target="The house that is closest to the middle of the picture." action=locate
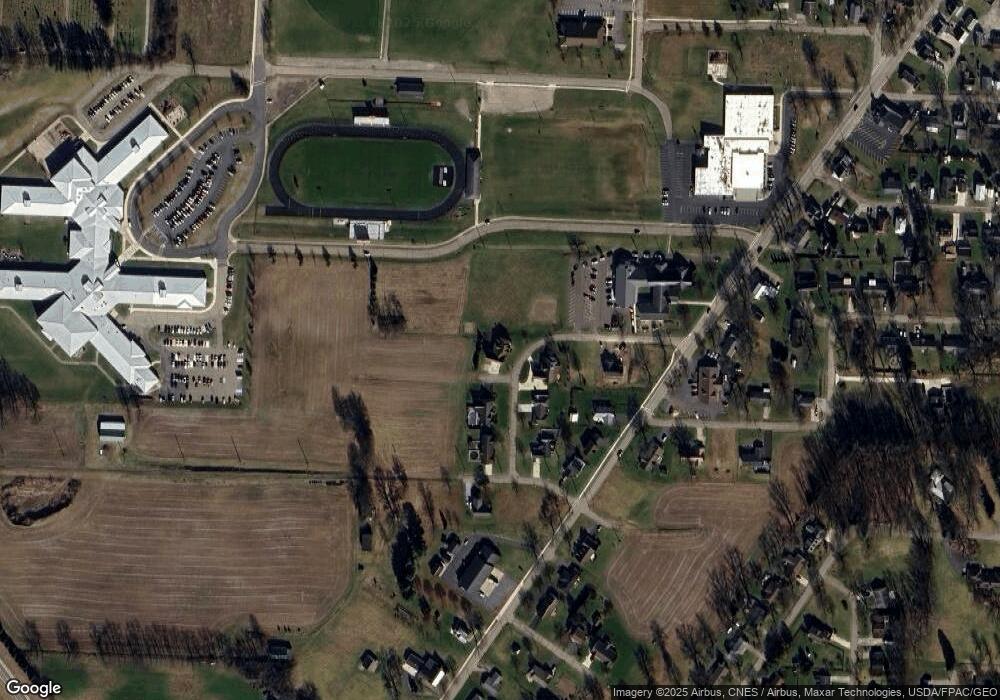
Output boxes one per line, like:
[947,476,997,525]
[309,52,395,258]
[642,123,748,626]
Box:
[484,333,513,360]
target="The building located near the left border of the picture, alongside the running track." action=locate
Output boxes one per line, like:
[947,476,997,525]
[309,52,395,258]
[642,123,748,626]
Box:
[0,111,207,394]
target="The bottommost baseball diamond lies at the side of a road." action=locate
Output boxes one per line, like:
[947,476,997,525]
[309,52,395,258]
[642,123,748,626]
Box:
[524,292,561,328]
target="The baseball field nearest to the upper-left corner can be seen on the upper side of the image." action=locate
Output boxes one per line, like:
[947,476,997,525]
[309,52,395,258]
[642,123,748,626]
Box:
[308,0,379,41]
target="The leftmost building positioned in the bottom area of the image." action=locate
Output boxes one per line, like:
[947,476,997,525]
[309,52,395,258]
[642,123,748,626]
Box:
[99,419,125,438]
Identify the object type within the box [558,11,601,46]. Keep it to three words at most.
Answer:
building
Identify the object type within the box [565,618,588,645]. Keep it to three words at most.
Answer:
house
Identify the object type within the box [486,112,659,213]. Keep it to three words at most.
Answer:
sports field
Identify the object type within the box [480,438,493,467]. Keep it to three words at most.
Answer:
house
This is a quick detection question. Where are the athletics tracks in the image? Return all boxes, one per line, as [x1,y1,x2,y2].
[266,124,466,217]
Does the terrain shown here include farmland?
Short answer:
Yes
